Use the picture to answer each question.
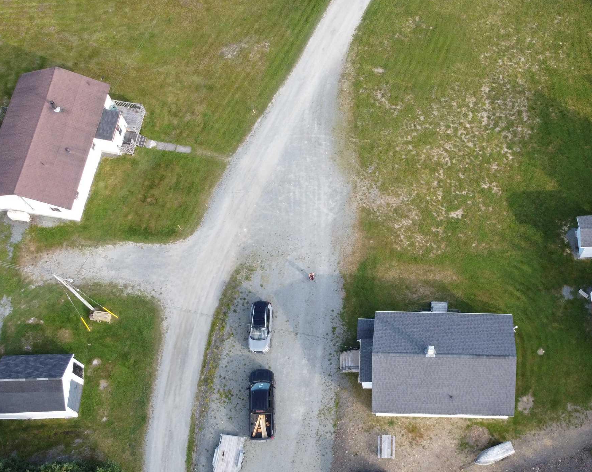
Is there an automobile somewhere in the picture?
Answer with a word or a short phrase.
Yes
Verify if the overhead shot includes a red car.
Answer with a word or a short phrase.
No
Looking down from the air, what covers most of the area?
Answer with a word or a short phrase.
grass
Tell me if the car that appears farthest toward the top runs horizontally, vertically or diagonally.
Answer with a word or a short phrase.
vertically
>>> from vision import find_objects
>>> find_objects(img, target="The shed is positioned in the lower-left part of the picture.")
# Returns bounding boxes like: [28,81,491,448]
[0,354,84,419]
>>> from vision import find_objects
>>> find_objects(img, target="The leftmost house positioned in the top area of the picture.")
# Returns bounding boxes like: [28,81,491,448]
[0,66,129,222]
